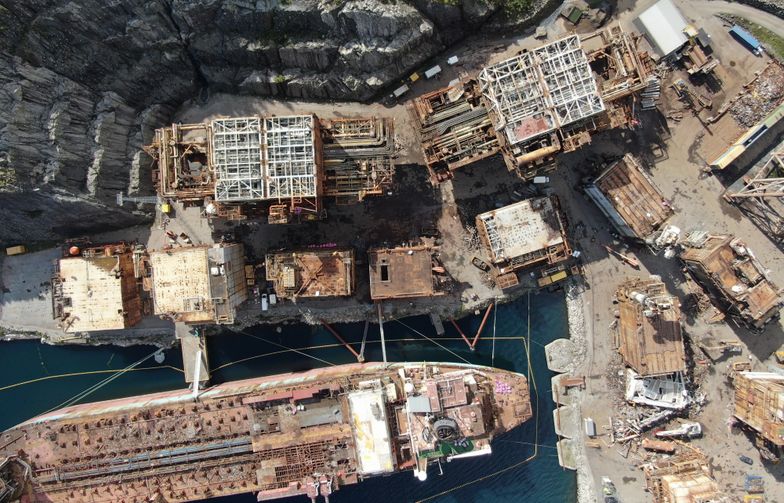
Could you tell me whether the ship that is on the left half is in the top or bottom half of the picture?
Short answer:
bottom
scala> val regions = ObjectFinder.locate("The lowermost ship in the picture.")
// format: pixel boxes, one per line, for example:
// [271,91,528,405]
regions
[0,349,534,503]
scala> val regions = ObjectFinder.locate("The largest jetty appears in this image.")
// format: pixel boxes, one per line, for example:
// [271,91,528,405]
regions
[174,321,212,388]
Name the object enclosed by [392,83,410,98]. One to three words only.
vehicle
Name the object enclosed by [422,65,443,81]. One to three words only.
vehicle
